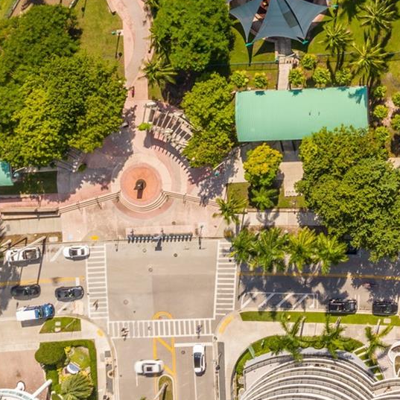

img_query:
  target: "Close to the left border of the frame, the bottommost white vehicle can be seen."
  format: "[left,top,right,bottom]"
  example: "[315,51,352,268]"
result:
[10,306,52,327]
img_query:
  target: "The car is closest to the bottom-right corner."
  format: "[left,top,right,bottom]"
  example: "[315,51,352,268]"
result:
[371,302,399,317]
